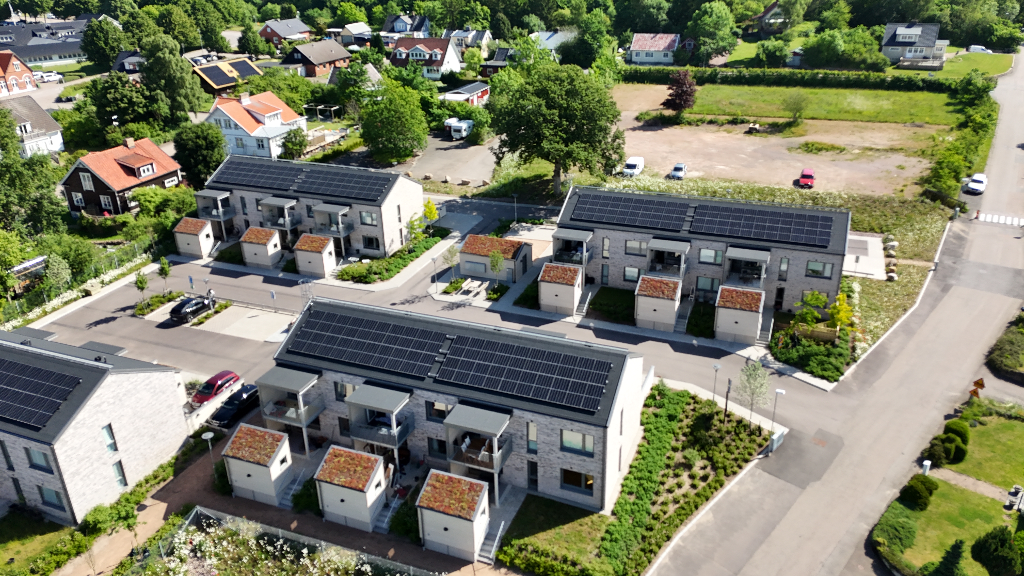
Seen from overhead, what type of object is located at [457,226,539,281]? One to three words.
shed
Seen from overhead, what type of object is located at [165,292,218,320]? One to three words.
car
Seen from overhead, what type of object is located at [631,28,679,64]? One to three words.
house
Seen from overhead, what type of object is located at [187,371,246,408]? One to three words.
car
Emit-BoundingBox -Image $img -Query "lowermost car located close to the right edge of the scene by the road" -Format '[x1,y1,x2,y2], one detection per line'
[966,173,991,193]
